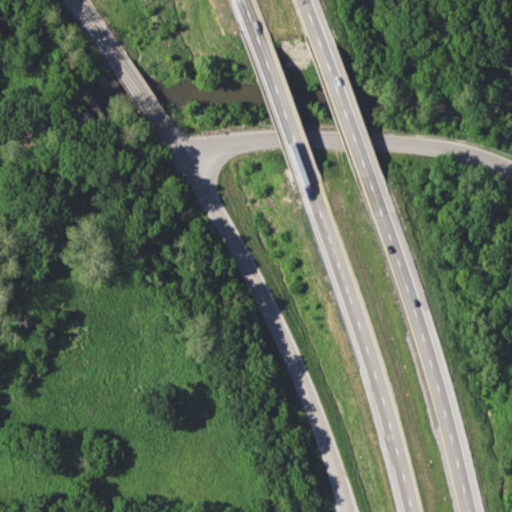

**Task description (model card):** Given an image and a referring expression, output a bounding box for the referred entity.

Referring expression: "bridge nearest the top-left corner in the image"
[109,54,168,128]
